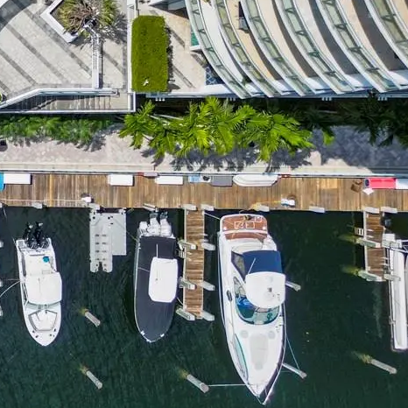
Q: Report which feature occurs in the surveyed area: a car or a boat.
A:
boat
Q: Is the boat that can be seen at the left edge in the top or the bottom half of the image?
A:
bottom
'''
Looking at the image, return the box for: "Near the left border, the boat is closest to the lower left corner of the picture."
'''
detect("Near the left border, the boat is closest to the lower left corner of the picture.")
[13,223,61,346]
